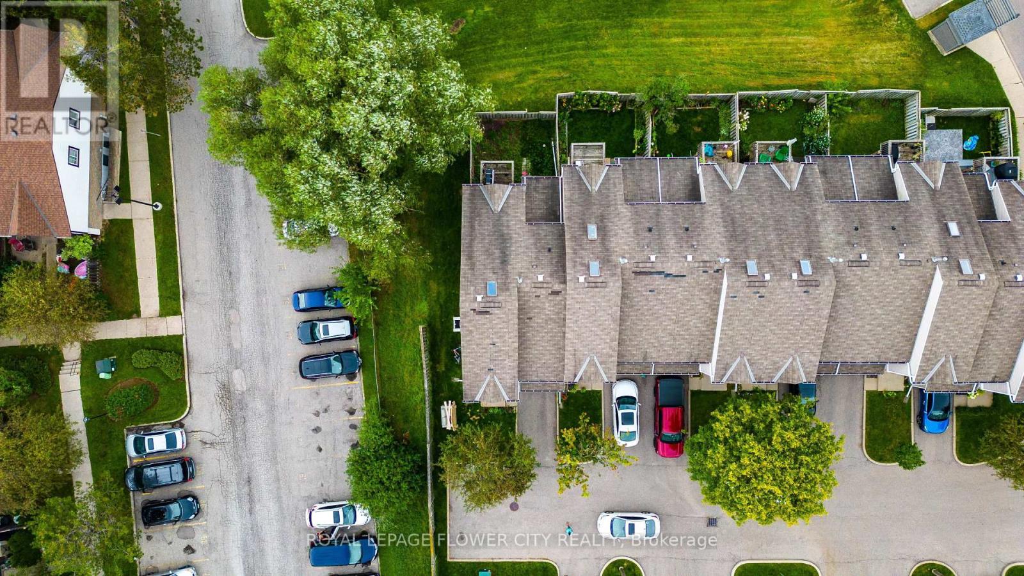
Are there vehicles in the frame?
Yes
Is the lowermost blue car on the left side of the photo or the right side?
left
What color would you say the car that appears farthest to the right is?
blue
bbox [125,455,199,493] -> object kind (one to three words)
car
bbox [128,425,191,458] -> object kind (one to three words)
car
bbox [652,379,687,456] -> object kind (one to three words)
truck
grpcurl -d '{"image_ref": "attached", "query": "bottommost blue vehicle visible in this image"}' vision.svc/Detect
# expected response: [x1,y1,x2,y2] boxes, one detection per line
[308,531,380,567]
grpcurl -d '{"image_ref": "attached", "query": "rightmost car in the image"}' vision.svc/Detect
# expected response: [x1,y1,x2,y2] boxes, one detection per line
[917,387,954,432]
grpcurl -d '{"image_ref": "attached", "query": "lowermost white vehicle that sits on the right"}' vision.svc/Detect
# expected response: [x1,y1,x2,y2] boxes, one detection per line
[597,509,660,541]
